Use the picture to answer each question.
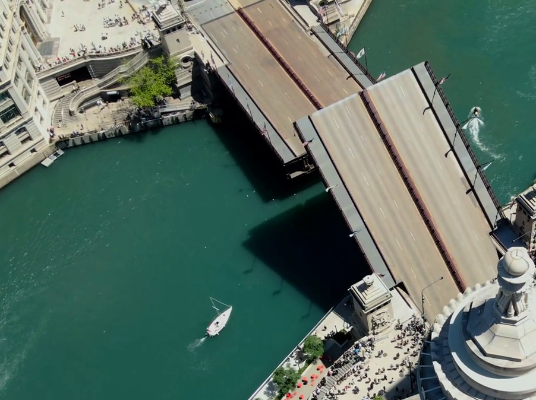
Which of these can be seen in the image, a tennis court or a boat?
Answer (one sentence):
I can see a boat in this picture.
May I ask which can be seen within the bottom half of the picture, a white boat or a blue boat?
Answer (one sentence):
Looking within the bottom half of the picture, you will find a white boat.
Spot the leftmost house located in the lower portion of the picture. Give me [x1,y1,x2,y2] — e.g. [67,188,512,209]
[347,273,403,345]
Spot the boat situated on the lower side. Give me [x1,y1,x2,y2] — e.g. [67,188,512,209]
[202,296,234,340]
